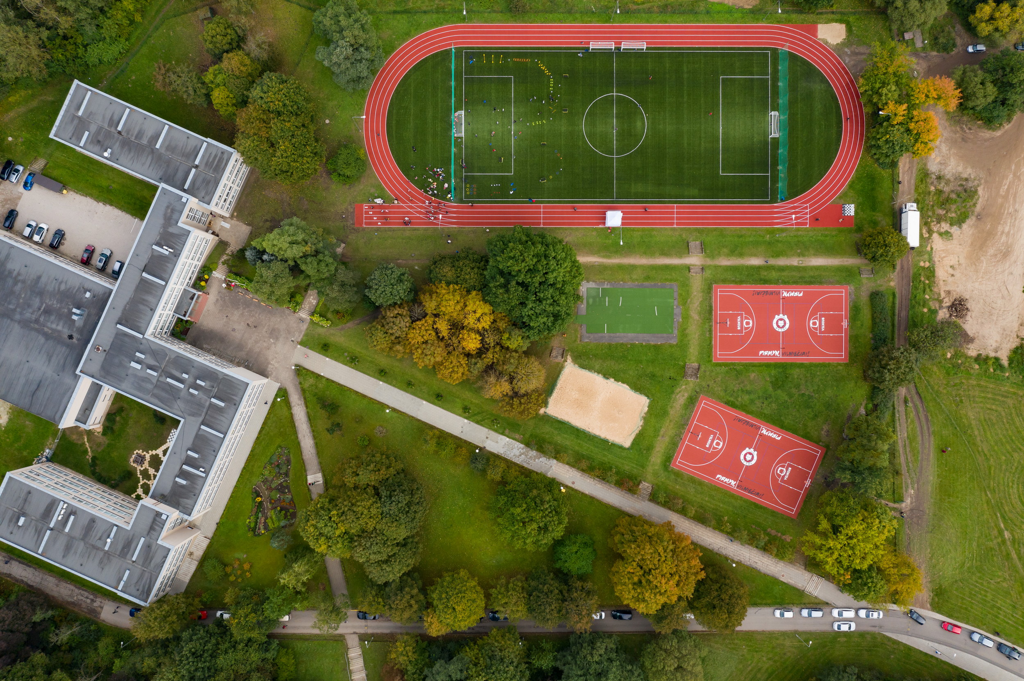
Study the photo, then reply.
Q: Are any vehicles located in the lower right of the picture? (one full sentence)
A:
Yes, I can see a vehicle in the lower right of the picture.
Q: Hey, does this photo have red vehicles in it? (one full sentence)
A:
Yes, the photo shows a red vehicle.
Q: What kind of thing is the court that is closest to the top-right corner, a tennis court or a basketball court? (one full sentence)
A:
The court that is closest to the top-right corner appears to be a basketball court.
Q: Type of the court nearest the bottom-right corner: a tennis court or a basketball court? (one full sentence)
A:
I'd identify the court nearest the bottom-right corner as a basketball court.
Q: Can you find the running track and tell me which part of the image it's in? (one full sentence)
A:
The running track appears toward the top of the photo.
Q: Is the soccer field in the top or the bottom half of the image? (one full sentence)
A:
You can find the soccer field in the top half.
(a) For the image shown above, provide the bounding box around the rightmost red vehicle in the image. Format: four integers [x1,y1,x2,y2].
[940,620,965,637]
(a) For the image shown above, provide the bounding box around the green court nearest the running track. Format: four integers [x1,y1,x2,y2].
[575,281,682,343]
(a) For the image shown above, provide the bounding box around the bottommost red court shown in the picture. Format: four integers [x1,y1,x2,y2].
[670,394,826,520]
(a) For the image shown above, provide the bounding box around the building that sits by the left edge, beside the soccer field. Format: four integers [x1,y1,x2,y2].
[0,79,271,607]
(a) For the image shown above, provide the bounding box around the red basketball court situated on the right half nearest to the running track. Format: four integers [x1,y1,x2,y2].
[713,284,849,363]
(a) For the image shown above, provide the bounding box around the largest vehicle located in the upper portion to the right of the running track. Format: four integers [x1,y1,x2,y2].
[904,203,925,250]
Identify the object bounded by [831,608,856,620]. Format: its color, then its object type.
white vehicle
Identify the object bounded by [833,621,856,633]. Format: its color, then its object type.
white vehicle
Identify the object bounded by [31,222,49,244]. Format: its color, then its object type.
white car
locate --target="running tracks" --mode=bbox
[355,23,865,227]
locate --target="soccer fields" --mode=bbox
[386,46,842,204]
